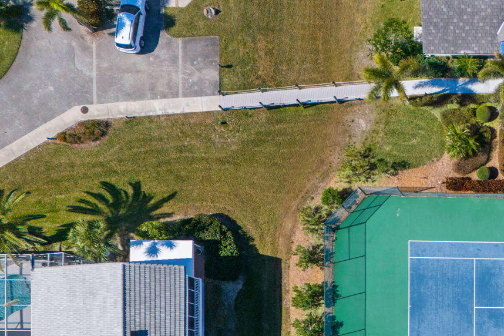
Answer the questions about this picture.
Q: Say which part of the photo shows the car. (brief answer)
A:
top left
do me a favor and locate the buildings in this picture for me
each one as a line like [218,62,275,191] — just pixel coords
[31,240,204,336]
[421,0,504,65]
